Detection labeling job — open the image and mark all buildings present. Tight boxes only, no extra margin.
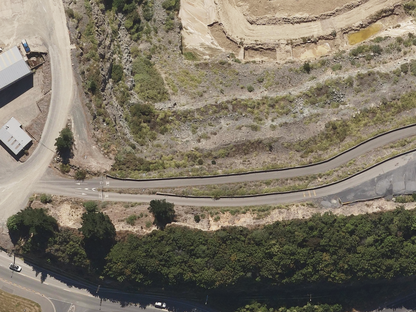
[0,44,32,88]
[0,116,34,154]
